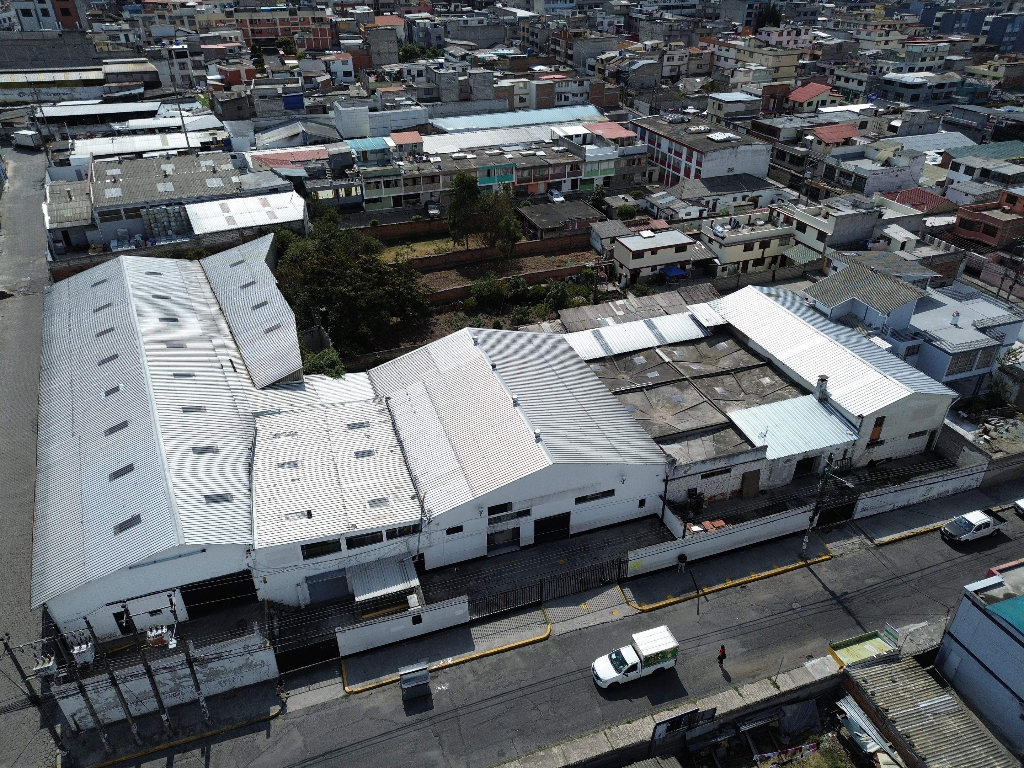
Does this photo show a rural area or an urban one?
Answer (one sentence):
The area is urban.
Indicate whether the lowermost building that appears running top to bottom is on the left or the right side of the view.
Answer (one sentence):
You can find the lowermost building that appears running top to bottom on the right side of the picture.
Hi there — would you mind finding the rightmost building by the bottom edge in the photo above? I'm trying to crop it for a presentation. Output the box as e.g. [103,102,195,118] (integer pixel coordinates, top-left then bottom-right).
[938,567,1024,758]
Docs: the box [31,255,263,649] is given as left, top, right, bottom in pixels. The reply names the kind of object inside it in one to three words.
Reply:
warehouse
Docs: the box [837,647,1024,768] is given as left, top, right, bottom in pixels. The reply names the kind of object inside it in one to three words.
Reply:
building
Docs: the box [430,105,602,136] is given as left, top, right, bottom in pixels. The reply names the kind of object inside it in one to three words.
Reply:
building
